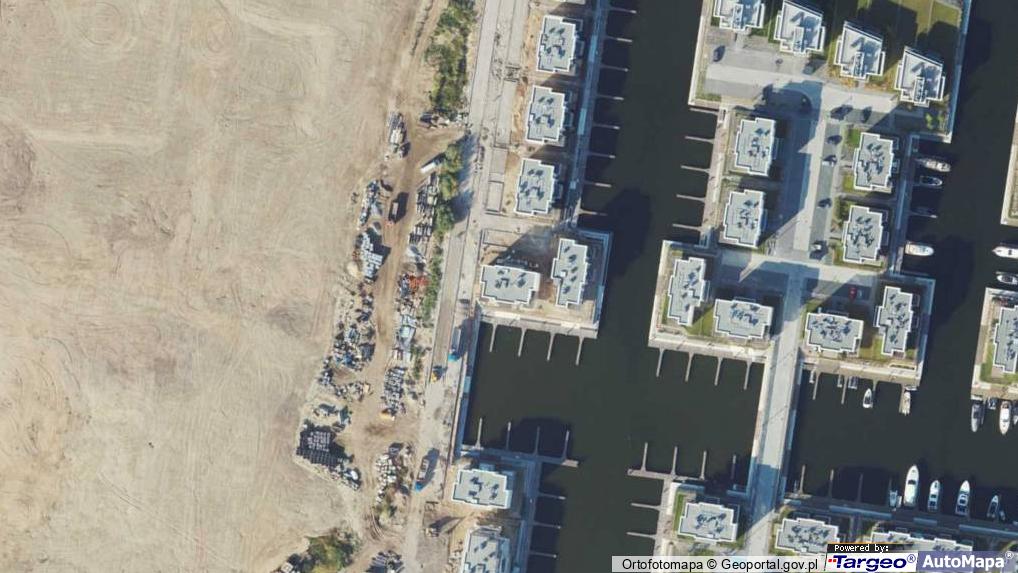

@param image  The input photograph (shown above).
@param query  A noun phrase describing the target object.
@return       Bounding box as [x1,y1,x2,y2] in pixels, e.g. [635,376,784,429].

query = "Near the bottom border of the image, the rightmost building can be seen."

[918,536,977,573]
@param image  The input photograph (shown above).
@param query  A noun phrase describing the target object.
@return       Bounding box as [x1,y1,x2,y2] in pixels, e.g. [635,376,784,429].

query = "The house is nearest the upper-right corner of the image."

[893,47,947,104]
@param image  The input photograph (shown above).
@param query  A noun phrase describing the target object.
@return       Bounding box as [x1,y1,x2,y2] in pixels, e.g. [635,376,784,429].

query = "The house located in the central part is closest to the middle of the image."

[480,262,540,304]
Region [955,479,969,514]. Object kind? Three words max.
boat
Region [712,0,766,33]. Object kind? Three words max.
house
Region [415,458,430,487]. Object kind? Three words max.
vehicle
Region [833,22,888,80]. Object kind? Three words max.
house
